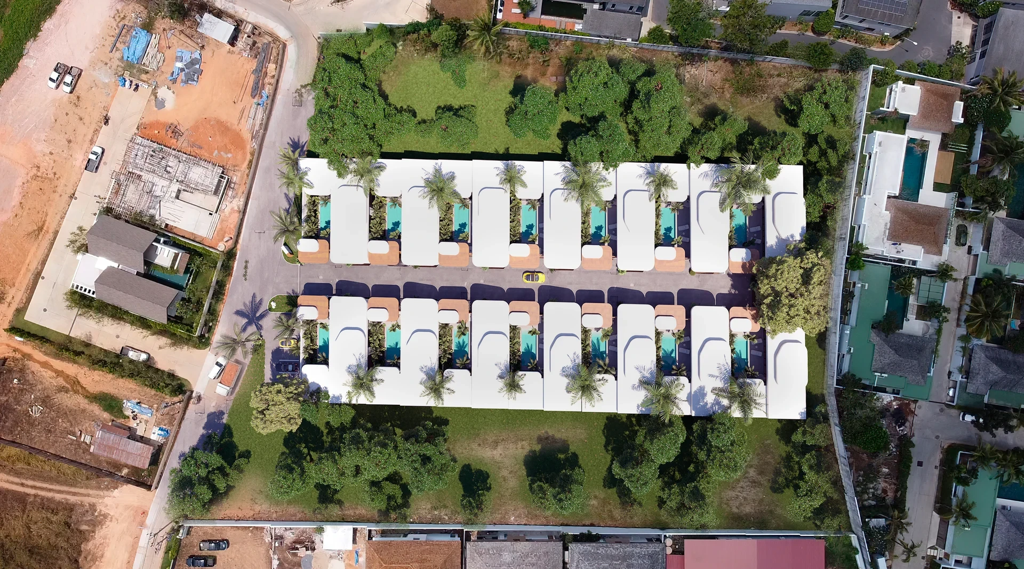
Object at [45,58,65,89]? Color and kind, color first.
white vehicle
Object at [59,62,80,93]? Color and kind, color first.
white truck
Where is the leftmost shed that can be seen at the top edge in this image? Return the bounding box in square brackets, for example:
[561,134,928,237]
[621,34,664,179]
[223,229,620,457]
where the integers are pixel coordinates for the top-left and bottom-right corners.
[195,13,239,46]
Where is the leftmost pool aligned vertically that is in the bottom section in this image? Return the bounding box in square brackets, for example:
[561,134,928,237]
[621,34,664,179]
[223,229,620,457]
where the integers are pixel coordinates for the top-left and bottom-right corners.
[316,323,329,363]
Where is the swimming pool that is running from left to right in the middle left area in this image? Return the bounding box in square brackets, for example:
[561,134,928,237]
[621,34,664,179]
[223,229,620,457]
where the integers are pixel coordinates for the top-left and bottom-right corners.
[140,268,189,291]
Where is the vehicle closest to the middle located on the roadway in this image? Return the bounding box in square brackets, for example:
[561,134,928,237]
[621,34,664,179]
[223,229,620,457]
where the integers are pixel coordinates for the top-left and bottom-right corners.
[523,271,545,283]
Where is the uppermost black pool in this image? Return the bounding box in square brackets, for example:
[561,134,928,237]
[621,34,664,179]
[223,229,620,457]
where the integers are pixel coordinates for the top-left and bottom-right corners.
[539,0,591,21]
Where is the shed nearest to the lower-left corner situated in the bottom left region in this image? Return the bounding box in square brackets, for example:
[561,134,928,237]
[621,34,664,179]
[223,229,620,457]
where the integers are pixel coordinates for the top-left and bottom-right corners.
[91,422,159,469]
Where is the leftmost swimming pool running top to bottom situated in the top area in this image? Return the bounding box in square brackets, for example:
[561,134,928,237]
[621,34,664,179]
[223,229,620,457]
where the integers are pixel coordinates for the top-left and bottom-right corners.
[318,199,330,242]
